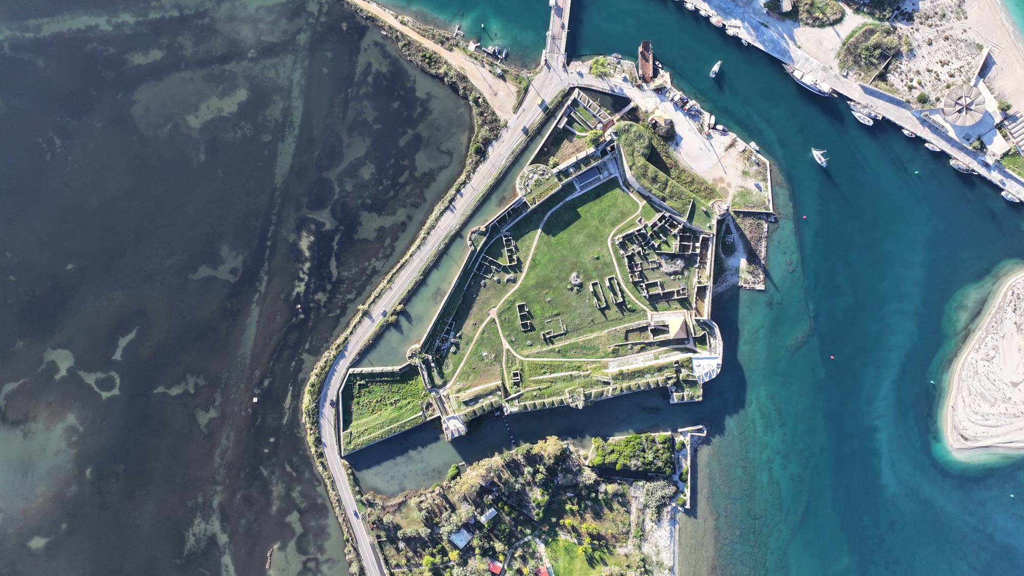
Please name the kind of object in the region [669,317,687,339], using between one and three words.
house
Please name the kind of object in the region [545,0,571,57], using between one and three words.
bridge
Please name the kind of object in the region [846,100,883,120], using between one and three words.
boat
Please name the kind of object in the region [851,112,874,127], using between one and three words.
boat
